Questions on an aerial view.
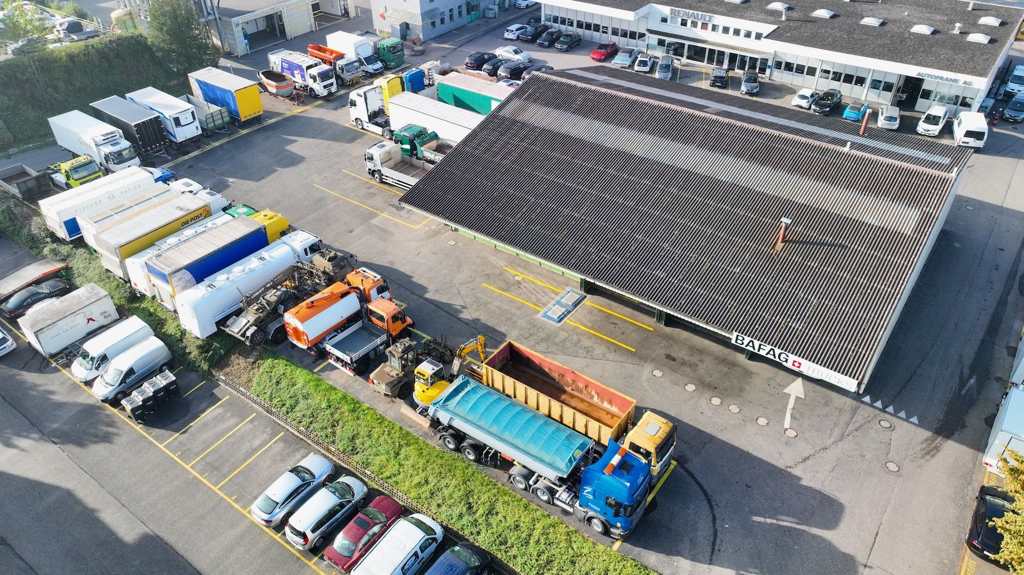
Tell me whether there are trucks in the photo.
Yes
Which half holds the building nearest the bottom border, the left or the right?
right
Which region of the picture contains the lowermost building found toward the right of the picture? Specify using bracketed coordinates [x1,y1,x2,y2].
[398,64,972,408]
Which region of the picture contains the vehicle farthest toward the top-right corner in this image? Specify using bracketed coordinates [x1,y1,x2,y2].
[1002,67,1024,97]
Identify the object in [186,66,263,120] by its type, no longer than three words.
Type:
trailer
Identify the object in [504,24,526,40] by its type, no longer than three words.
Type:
car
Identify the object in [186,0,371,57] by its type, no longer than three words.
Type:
shed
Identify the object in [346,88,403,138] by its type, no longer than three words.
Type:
truck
